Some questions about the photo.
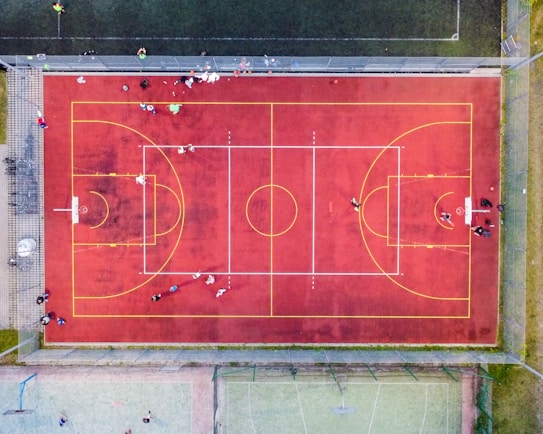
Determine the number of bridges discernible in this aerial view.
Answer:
0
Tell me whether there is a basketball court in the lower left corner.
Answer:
Yes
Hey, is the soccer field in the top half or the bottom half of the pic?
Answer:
top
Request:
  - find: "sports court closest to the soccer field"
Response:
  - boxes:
[44,75,500,344]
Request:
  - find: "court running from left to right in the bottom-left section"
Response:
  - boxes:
[0,366,213,434]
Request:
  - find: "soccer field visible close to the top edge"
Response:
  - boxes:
[0,0,500,68]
